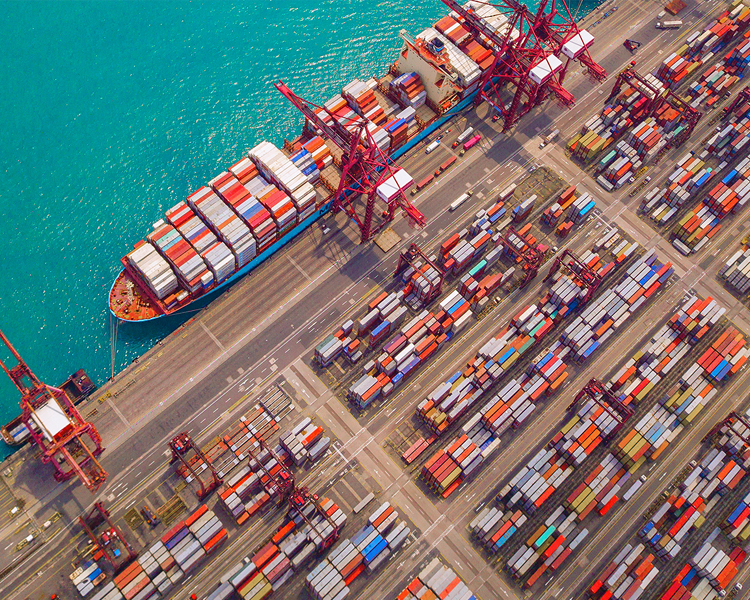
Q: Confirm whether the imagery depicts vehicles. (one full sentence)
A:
Yes, the photo shows a vehicle.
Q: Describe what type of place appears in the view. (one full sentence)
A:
The area seen from above is a port.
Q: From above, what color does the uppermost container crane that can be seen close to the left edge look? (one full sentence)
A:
The color of the uppermost container crane that can be seen close to the left edge is red.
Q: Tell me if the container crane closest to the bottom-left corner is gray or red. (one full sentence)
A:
The container crane closest to the bottom-left corner looks red in the image.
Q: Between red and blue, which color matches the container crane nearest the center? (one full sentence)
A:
From above, the container crane nearest the center appears red.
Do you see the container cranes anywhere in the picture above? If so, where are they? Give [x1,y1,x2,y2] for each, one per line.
[724,83,750,116]
[488,224,547,288]
[244,437,300,508]
[642,89,704,152]
[494,0,607,106]
[168,429,226,501]
[0,329,111,496]
[606,67,664,124]
[544,247,606,310]
[570,374,638,442]
[270,80,428,245]
[703,409,750,448]
[78,502,141,577]
[393,242,449,308]
[282,485,341,558]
